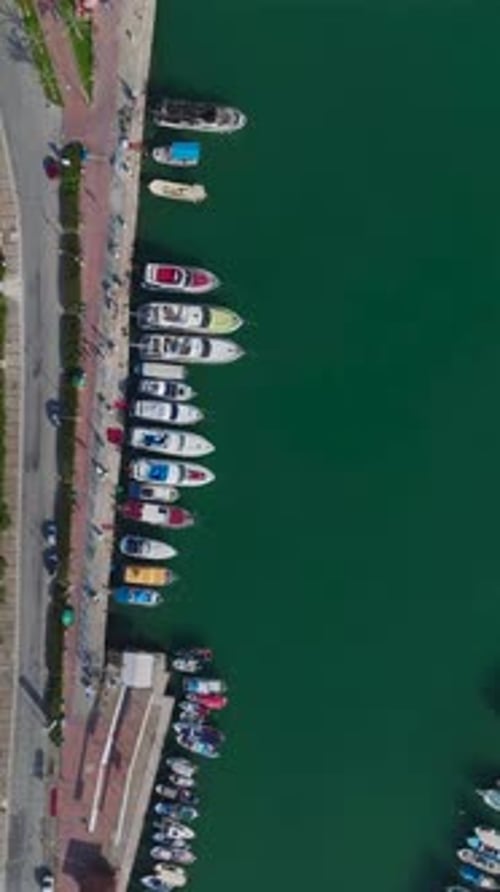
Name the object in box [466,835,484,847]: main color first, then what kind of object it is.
blue boat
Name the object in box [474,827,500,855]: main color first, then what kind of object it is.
white boat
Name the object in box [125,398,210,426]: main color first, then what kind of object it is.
white boat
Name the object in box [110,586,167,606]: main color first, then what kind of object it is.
blue boat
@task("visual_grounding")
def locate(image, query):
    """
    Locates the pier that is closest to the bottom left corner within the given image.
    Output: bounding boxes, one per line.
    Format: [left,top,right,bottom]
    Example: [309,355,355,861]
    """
[57,651,176,892]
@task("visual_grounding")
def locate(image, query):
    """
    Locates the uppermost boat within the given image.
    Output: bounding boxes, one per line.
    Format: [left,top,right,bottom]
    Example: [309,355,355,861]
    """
[145,100,256,132]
